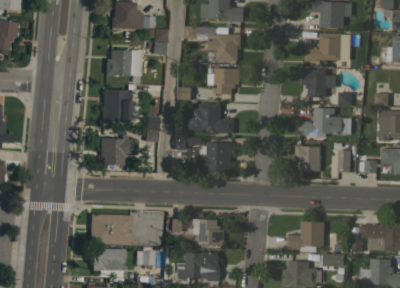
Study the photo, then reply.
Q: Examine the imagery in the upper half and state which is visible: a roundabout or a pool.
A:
pool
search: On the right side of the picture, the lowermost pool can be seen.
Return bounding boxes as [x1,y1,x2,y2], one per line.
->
[340,72,361,92]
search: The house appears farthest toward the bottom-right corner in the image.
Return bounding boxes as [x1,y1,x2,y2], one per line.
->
[361,260,400,288]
